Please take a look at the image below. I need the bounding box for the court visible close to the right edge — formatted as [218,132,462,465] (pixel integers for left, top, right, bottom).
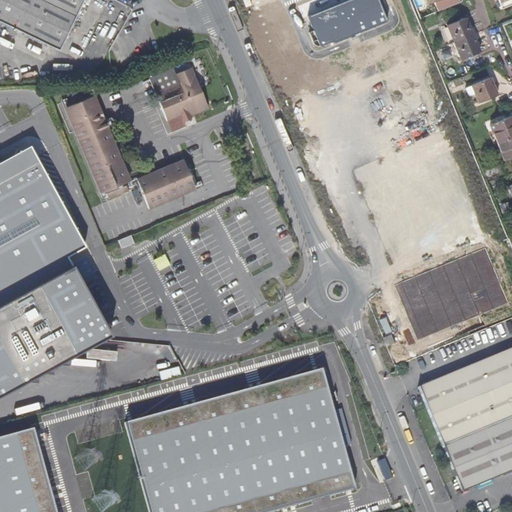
[396,248,507,338]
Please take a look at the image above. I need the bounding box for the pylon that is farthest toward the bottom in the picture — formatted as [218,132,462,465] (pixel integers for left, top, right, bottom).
[90,488,118,512]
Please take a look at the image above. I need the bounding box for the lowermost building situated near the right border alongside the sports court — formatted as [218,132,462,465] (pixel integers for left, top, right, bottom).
[417,346,512,490]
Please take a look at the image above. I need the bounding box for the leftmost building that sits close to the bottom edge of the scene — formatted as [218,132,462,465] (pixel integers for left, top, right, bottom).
[0,428,57,512]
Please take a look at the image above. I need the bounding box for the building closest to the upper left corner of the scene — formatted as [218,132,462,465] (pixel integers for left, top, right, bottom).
[0,0,84,50]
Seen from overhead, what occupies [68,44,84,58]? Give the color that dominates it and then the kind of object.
white vehicle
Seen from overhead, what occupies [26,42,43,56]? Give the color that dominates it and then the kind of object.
white vehicle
